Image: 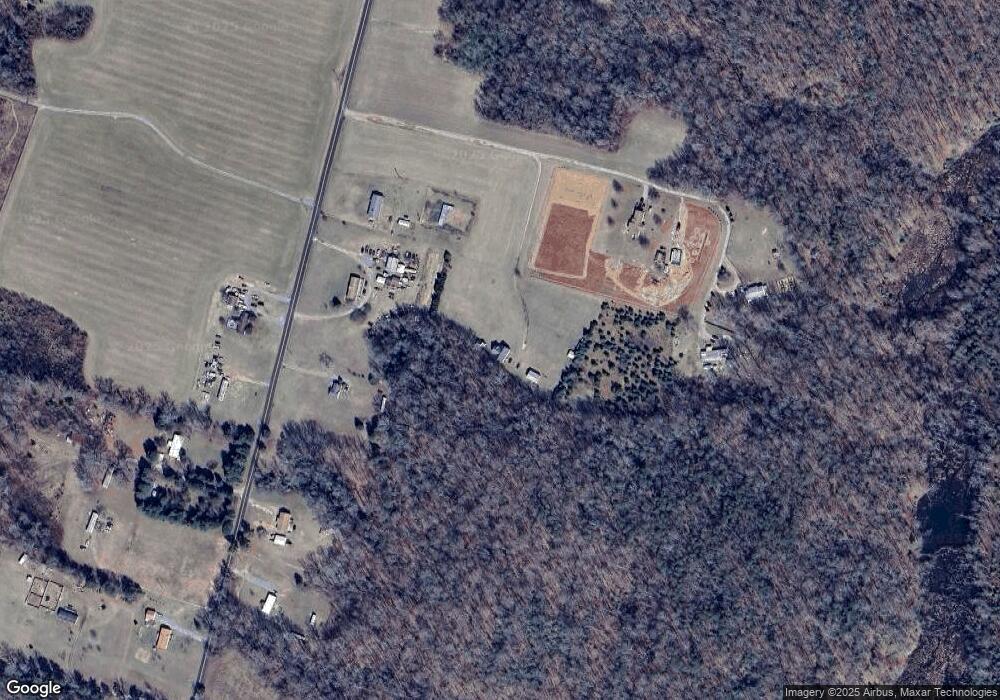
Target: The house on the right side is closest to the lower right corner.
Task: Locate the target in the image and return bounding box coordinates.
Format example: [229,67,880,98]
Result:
[700,347,728,371]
